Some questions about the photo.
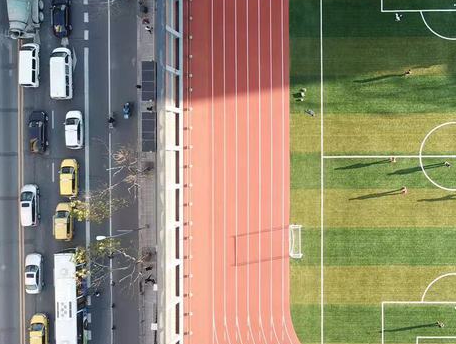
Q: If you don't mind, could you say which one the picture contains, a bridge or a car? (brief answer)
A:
car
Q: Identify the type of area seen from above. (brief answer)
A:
sports ground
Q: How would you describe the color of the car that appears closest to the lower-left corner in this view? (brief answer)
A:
yellow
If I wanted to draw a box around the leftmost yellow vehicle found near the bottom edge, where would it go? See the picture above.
[28,314,48,344]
